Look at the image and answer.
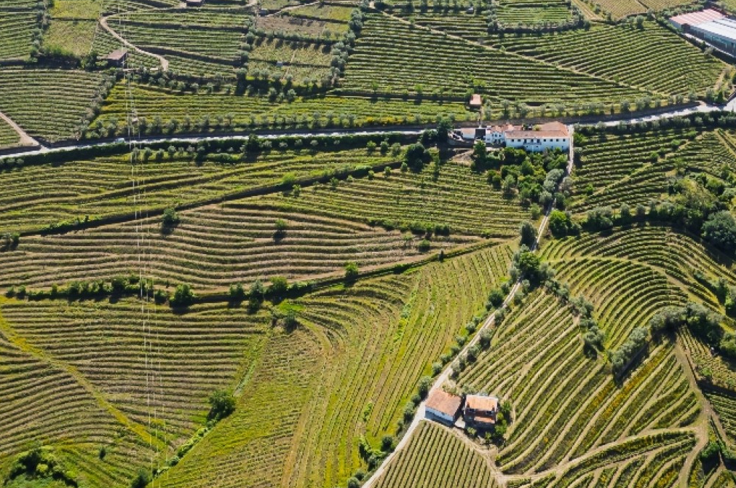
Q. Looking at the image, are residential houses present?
Yes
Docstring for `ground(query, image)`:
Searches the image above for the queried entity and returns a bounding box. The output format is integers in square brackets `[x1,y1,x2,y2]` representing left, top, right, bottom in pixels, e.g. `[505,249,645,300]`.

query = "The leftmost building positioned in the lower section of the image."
[423,388,462,425]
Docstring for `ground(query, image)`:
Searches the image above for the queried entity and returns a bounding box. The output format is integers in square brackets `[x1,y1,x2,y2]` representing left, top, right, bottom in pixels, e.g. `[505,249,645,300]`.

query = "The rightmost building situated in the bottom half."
[463,392,498,432]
